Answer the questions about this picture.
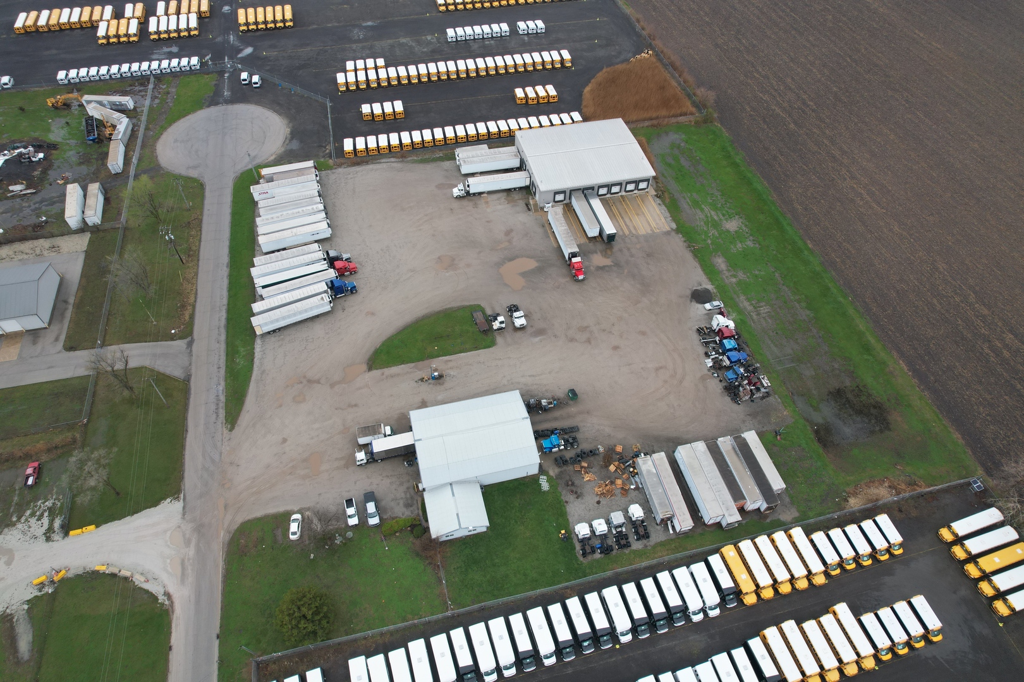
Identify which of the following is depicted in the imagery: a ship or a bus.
bus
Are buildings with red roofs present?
No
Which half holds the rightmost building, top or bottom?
top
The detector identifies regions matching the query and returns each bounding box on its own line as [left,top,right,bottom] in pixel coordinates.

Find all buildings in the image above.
[0,262,61,335]
[410,390,540,492]
[514,118,654,206]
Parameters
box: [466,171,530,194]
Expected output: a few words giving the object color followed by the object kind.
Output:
white trailer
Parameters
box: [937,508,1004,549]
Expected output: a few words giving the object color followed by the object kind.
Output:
white bus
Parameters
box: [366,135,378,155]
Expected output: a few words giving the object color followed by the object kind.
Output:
white vehicle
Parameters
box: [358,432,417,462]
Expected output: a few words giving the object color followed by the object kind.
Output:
white truck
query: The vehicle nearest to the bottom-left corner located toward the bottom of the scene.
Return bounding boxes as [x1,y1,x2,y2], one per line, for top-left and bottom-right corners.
[24,464,39,486]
